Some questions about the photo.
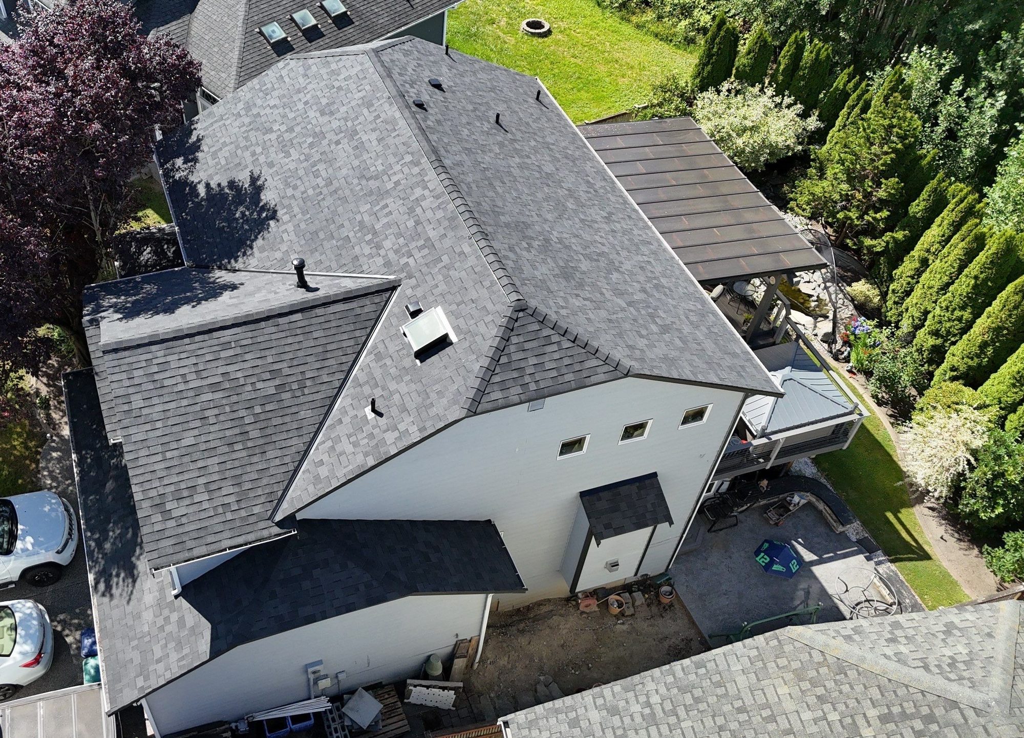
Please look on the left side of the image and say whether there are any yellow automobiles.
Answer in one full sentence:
No, no yellow automobile is visible on the left side of the image.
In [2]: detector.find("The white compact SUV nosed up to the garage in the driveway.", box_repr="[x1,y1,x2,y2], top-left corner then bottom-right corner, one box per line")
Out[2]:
[0,490,81,596]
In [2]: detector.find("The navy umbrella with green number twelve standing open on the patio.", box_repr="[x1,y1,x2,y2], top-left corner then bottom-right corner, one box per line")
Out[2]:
[748,536,798,586]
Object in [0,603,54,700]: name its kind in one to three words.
car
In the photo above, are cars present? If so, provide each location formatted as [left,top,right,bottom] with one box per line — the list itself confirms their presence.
[0,490,81,596]
[0,603,54,700]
